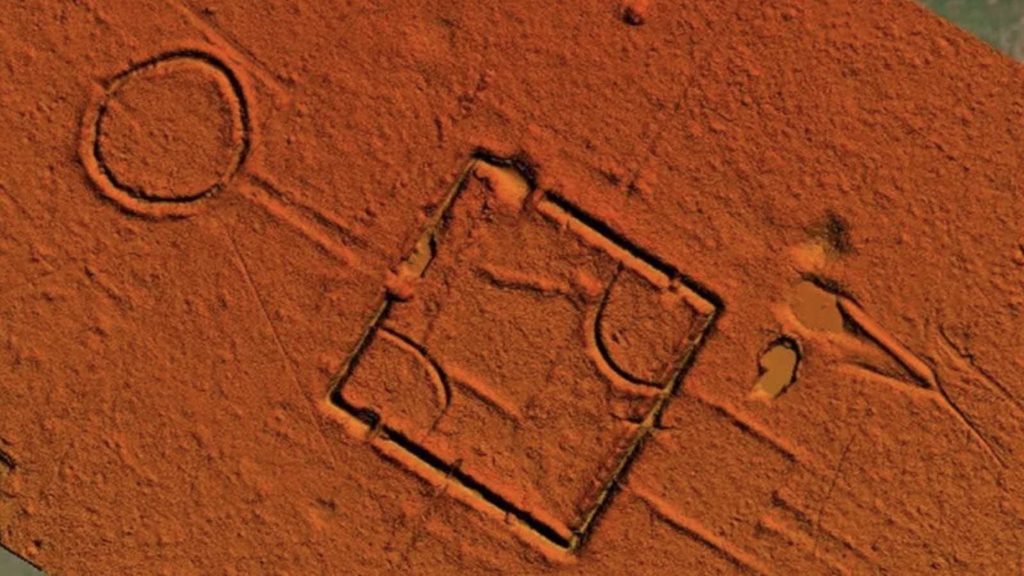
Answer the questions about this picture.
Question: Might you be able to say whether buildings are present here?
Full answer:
No, the scene contains no building.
